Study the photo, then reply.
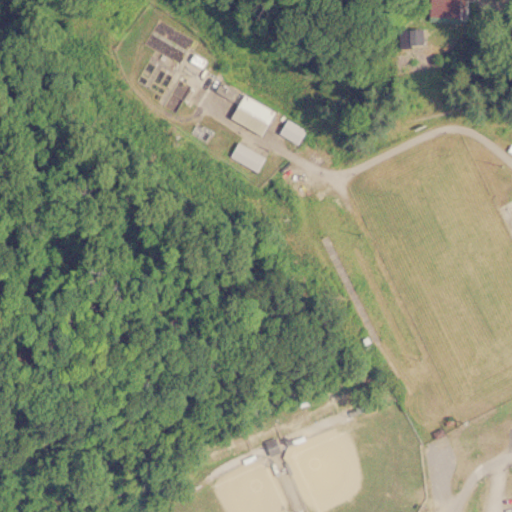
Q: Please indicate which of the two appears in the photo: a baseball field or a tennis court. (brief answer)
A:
baseball field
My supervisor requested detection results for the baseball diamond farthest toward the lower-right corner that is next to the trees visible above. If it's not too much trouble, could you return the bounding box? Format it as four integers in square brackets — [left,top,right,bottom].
[268,401,424,512]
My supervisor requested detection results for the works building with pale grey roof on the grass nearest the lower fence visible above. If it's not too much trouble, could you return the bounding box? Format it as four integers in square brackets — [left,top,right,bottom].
[231,142,267,174]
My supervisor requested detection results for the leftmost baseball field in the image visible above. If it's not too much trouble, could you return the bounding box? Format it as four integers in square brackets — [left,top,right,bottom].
[214,462,290,512]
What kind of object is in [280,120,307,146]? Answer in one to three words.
building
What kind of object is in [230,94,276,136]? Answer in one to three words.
building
